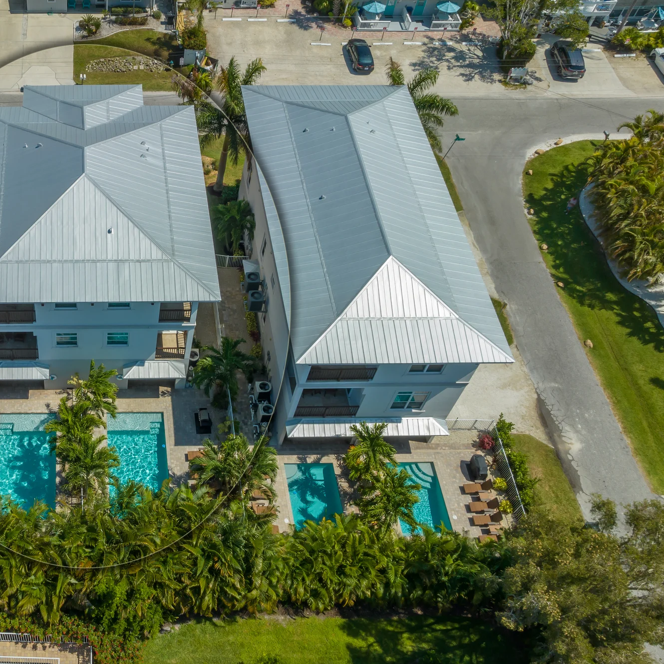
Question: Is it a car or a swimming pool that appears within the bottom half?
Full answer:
It is a swimming pool that can be seen within the bottom half.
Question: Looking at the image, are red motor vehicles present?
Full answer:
No, there is no red motor vehicle in the image.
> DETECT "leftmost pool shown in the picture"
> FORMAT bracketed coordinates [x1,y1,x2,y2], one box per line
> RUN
[0,408,59,522]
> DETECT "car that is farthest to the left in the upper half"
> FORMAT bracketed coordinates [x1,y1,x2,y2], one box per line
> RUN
[347,37,378,69]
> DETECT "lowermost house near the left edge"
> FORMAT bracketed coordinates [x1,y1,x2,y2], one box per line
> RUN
[0,83,223,389]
